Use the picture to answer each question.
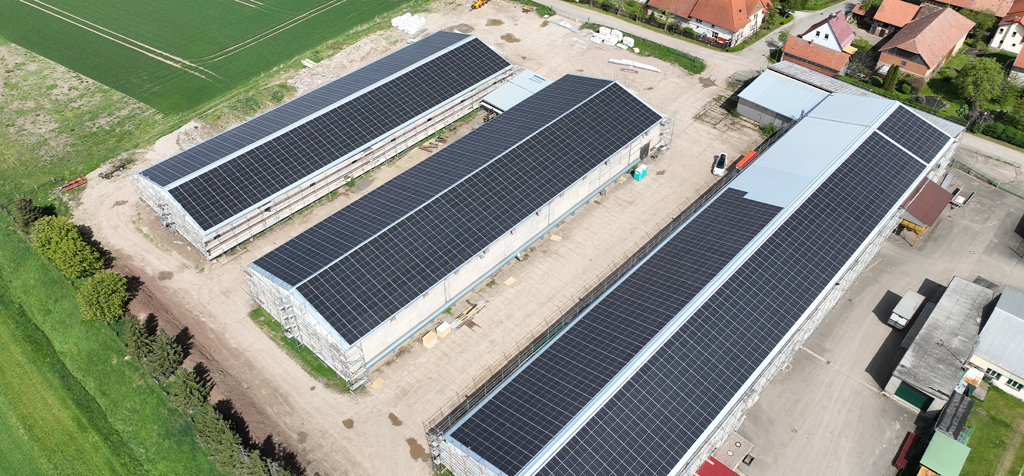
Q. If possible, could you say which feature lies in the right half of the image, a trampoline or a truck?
truck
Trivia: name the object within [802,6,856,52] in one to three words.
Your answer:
house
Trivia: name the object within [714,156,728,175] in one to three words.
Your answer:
car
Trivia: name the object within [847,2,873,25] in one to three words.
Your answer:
shed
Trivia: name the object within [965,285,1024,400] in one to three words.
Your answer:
building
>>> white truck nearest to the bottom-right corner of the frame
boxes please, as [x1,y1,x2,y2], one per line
[878,287,924,338]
